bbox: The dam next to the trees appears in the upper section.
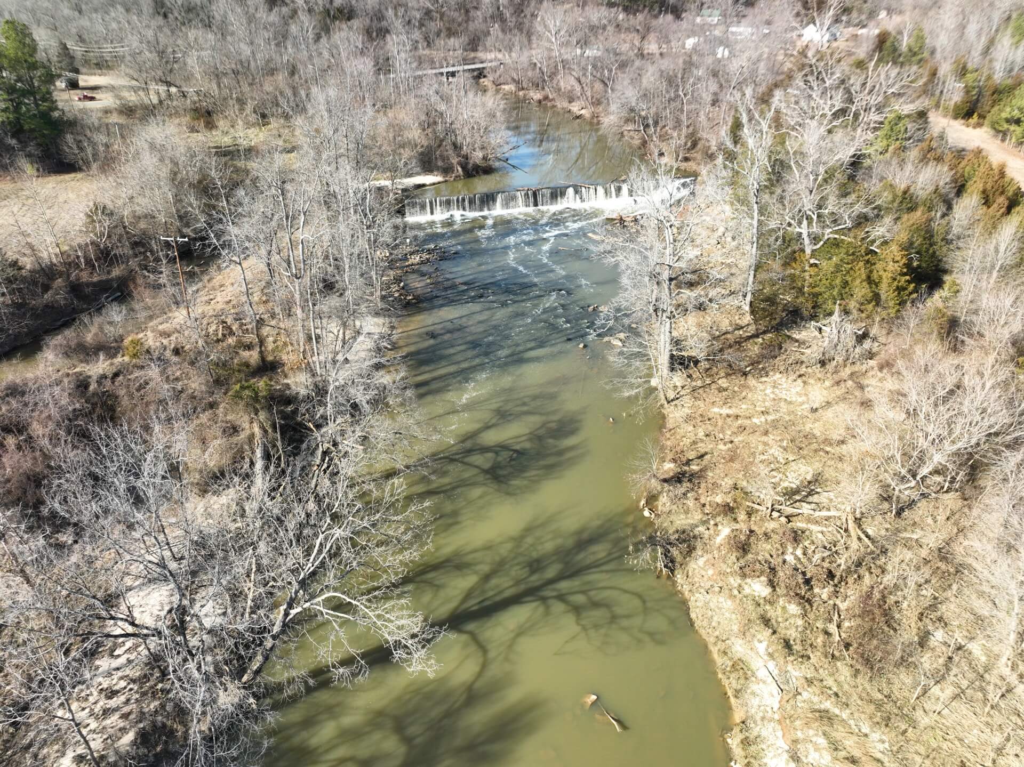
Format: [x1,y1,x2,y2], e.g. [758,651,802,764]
[355,183,647,220]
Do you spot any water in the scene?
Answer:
Yes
